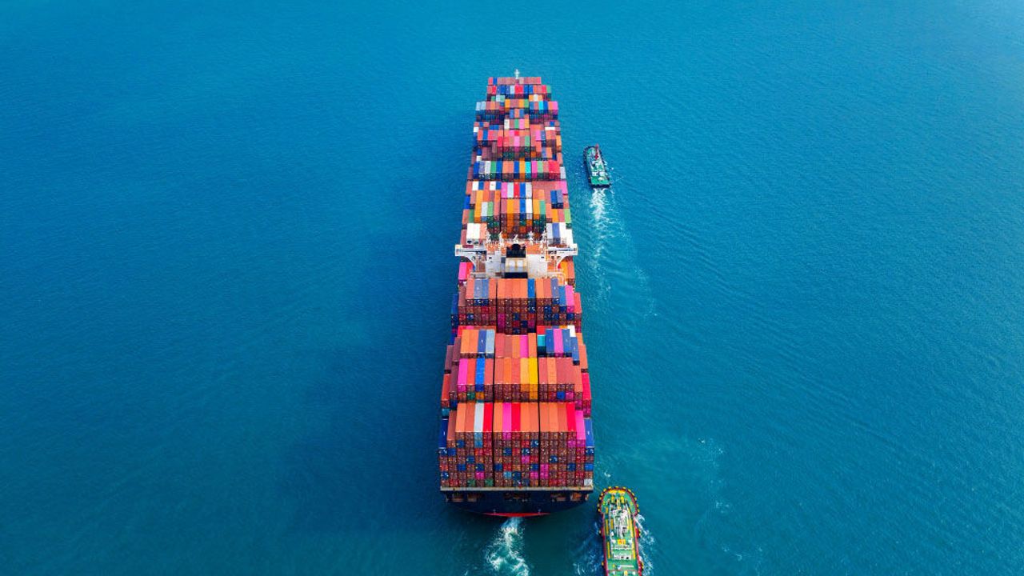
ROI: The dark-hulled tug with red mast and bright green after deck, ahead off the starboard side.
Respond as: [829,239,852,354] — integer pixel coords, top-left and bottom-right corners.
[583,142,613,187]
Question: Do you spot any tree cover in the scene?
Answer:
No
